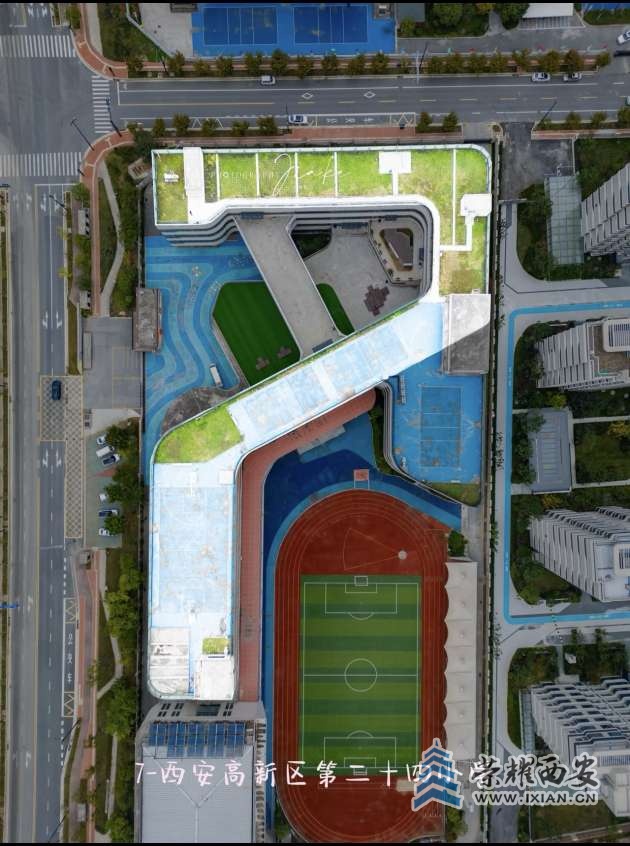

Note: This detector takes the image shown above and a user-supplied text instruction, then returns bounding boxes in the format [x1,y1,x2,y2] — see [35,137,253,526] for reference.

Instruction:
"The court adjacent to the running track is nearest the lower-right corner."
[419,387,462,466]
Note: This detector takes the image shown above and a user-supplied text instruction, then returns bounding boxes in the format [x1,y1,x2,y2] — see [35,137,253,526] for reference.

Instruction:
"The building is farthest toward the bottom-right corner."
[533,671,630,815]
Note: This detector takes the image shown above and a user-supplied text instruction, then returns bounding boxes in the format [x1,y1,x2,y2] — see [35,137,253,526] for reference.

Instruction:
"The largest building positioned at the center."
[147,145,493,702]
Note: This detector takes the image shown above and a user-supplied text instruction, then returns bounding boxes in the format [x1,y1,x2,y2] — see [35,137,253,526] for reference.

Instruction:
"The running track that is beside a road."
[274,489,452,846]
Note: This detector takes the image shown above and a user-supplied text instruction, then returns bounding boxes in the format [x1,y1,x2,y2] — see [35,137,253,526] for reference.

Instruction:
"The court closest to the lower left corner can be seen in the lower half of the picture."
[159,488,230,605]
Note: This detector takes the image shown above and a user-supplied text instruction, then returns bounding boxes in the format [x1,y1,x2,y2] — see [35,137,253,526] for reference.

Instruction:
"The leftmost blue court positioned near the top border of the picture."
[204,7,277,44]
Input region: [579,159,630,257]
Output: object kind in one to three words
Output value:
building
